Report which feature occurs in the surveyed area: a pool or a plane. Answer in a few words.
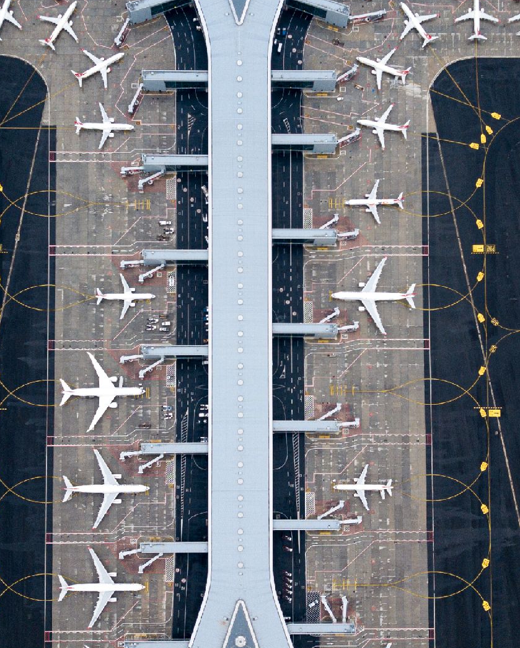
plane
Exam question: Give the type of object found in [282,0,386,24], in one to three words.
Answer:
jet bridge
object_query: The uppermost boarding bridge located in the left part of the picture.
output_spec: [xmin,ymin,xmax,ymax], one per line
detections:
[114,0,195,49]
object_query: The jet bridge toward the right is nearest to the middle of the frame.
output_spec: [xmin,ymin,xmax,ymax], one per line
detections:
[272,304,361,338]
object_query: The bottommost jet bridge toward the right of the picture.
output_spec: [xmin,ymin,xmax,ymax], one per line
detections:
[286,592,354,634]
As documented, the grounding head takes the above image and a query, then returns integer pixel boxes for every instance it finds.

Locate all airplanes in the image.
[59,547,145,629]
[358,99,411,148]
[455,0,502,38]
[95,272,156,319]
[357,44,411,88]
[73,43,124,88]
[37,2,81,47]
[74,101,134,149]
[64,448,150,529]
[333,463,394,512]
[332,254,419,333]
[396,3,436,44]
[0,0,25,38]
[345,177,404,224]
[58,351,145,431]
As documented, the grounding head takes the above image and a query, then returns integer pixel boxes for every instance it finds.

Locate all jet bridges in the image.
[120,346,208,382]
[120,250,208,286]
[272,500,364,531]
[272,304,361,338]
[124,640,190,648]
[120,155,208,192]
[120,443,208,480]
[120,542,208,579]
[286,592,354,634]
[272,401,363,433]
[271,61,360,89]
[114,0,195,49]
[271,209,360,244]
[127,70,208,114]
[282,0,386,24]
[271,126,361,151]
